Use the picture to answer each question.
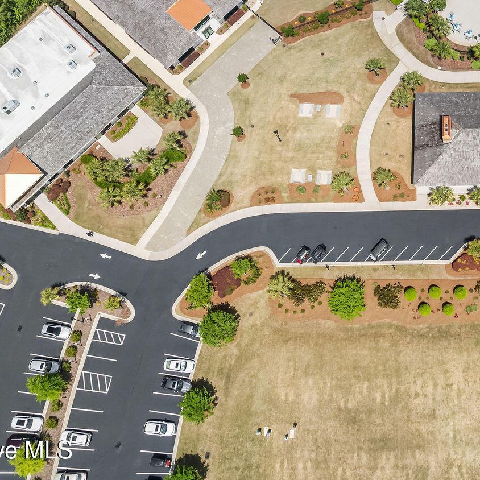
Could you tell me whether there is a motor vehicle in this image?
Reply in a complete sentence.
Yes, the picture does show a motor vehicle.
